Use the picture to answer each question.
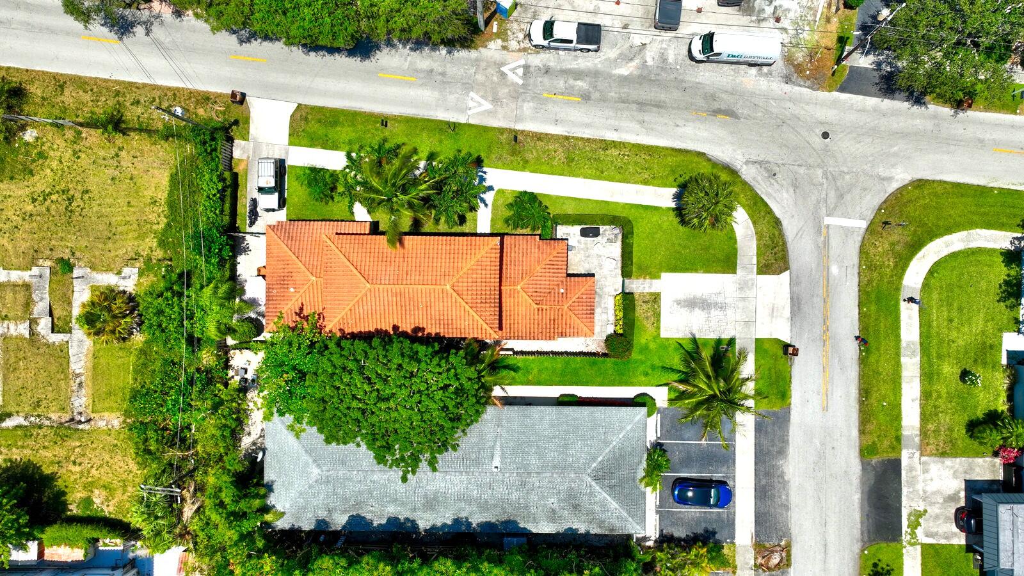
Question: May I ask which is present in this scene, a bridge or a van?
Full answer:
Of the two, only a van appears.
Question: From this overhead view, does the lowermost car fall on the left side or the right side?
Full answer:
It is on the right.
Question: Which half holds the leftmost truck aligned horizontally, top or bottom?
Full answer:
The leftmost truck aligned horizontally sits in the top half of the picture.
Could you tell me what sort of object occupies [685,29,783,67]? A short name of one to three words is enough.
van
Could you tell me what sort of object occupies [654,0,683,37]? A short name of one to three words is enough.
truck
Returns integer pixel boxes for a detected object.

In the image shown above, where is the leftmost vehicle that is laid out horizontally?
[525,14,603,52]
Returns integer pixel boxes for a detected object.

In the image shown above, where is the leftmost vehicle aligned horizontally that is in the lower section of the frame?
[671,478,733,511]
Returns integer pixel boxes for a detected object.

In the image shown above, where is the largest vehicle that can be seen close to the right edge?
[949,507,981,535]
